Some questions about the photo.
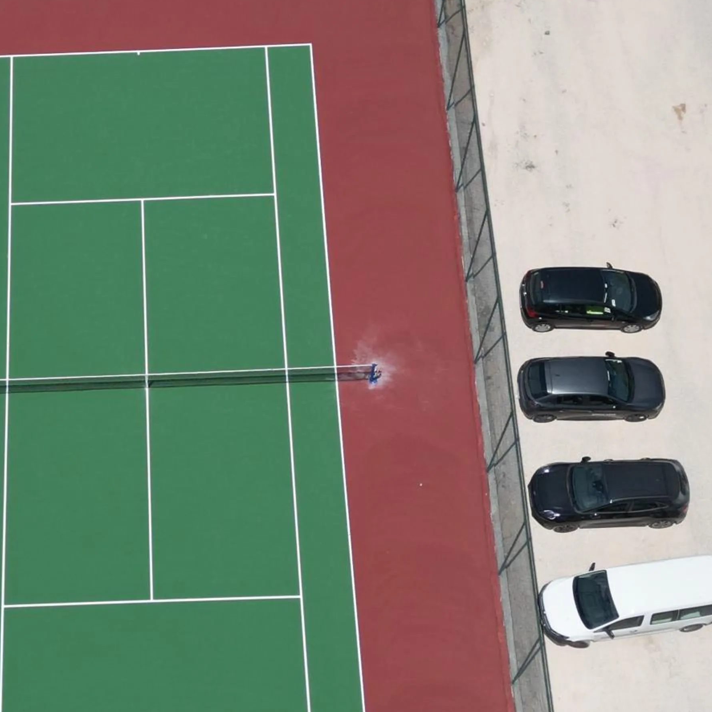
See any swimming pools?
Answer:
No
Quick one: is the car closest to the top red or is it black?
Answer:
black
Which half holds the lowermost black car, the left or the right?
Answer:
right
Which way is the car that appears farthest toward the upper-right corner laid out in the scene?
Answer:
from side to side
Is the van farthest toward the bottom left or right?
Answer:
right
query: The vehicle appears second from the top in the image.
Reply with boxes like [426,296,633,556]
[518,348,665,421]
